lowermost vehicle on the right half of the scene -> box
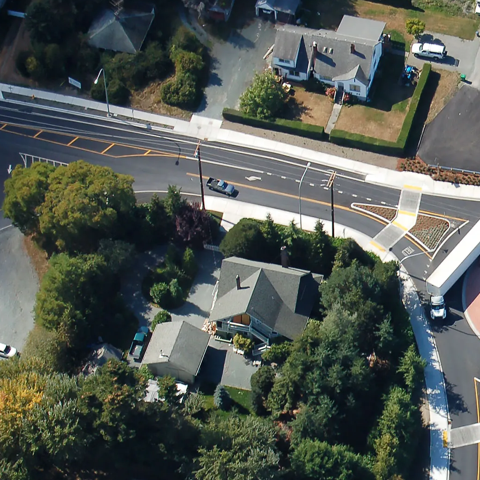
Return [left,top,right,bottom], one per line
[428,285,449,322]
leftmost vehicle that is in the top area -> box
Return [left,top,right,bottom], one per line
[203,177,237,195]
